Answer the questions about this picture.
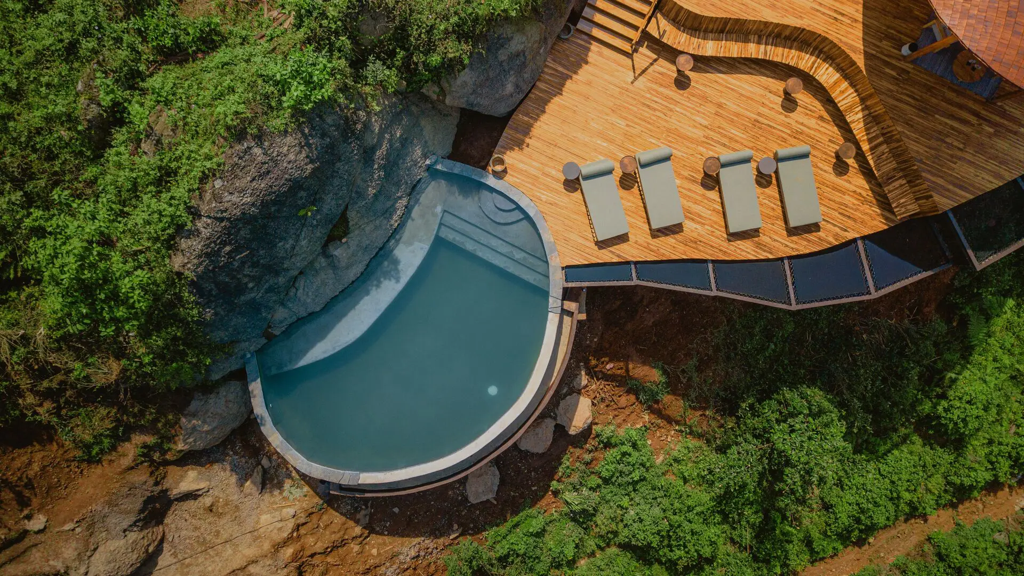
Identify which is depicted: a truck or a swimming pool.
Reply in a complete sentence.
Looking from above, you can make out a swimming pool.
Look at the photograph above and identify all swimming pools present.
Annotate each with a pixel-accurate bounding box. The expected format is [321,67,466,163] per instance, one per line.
[245,155,582,500]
